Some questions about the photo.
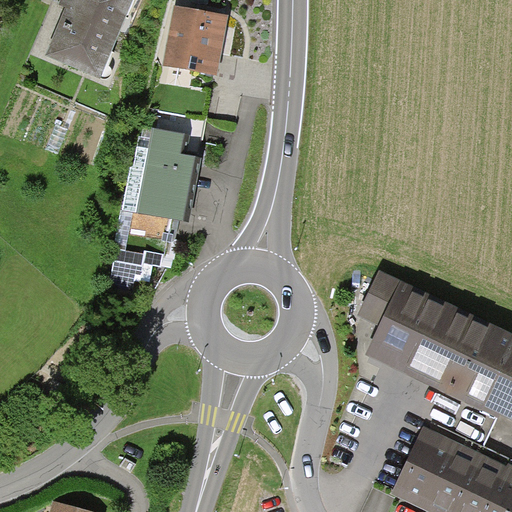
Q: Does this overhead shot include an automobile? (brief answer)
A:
Yes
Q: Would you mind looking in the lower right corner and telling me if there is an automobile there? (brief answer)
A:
Yes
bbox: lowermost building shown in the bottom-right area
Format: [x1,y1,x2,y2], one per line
[390,426,512,512]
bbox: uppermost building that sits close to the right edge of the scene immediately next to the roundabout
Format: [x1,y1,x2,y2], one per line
[366,280,512,428]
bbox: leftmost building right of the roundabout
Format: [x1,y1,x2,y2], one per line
[358,270,400,324]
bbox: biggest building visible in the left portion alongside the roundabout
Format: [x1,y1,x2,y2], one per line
[138,128,202,221]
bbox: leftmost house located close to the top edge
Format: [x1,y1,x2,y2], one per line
[46,0,135,79]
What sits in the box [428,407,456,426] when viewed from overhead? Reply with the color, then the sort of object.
white vehicle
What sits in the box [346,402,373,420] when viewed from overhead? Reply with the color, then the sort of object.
white car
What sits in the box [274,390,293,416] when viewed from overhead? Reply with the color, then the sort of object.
white car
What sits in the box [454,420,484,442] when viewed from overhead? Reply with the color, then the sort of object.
white truck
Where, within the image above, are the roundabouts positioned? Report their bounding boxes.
[186,246,318,378]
